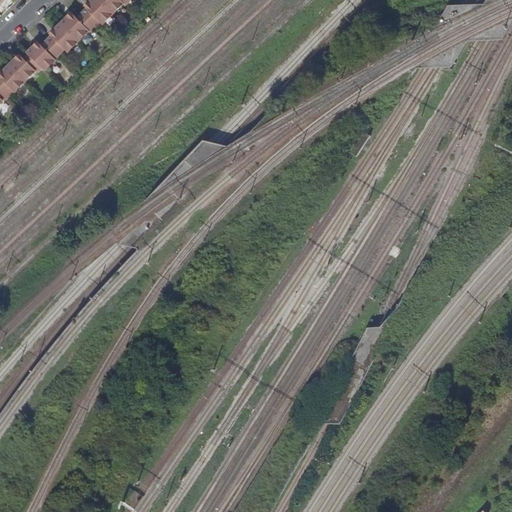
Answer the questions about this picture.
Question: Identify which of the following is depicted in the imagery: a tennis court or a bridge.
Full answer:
Looking from above, you can make out a bridge.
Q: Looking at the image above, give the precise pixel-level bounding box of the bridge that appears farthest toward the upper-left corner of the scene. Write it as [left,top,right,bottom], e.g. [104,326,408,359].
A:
[110,130,252,250]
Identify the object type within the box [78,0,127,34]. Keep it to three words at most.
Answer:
house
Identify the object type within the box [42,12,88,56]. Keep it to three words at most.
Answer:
house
